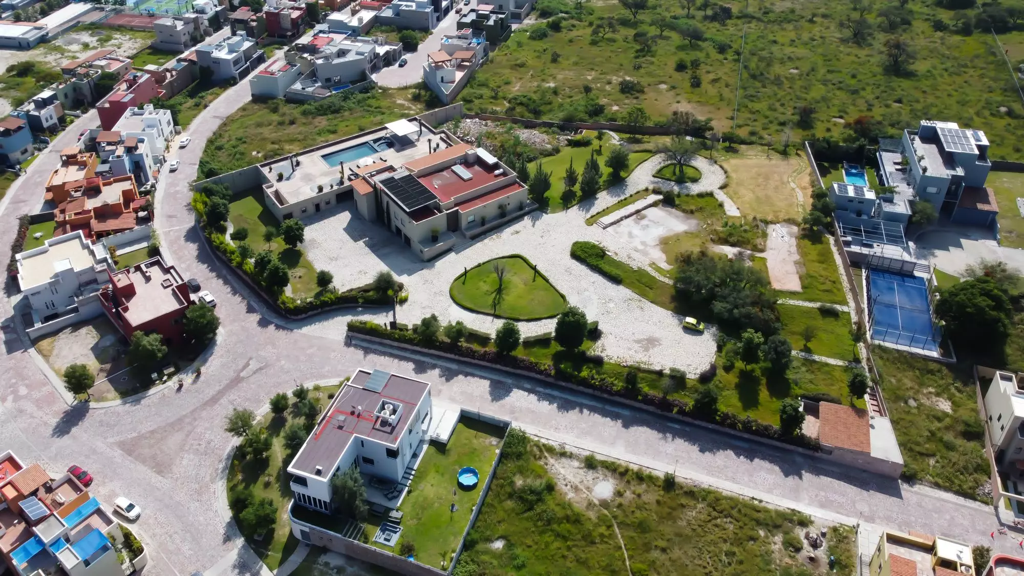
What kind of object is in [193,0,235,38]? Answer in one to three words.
house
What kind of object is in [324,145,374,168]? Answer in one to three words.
swimming pool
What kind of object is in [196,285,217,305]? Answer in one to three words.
car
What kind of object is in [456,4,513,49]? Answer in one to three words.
building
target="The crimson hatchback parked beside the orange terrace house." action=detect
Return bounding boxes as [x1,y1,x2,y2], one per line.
[63,460,94,485]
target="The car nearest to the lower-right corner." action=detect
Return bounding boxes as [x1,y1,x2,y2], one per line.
[682,311,706,329]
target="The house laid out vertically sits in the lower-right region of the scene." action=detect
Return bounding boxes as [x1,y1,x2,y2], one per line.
[975,371,1024,488]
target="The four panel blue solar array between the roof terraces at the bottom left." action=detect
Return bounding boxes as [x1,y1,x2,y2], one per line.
[18,497,50,520]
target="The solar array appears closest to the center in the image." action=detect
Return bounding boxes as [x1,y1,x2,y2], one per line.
[380,172,438,211]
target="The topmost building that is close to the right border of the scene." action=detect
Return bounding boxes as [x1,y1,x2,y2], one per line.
[830,118,999,232]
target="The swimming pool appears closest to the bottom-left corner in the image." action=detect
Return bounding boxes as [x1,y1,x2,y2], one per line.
[456,467,481,492]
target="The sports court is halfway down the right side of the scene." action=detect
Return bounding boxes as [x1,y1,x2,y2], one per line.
[869,267,939,354]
